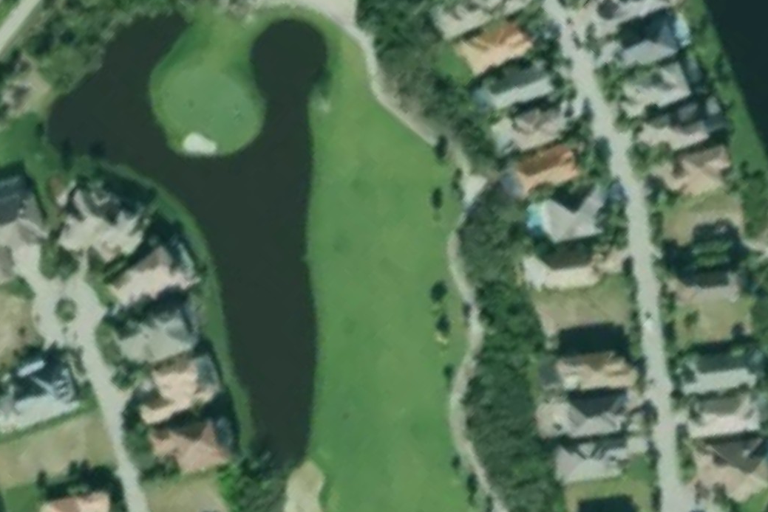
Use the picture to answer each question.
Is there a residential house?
Yes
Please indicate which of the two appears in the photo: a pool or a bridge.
pool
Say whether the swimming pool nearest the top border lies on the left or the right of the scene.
right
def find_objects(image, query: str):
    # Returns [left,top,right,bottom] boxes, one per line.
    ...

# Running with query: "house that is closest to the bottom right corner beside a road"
[685,434,768,507]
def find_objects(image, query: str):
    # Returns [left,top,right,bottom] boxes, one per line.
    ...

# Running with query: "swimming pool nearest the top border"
[673,13,695,47]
